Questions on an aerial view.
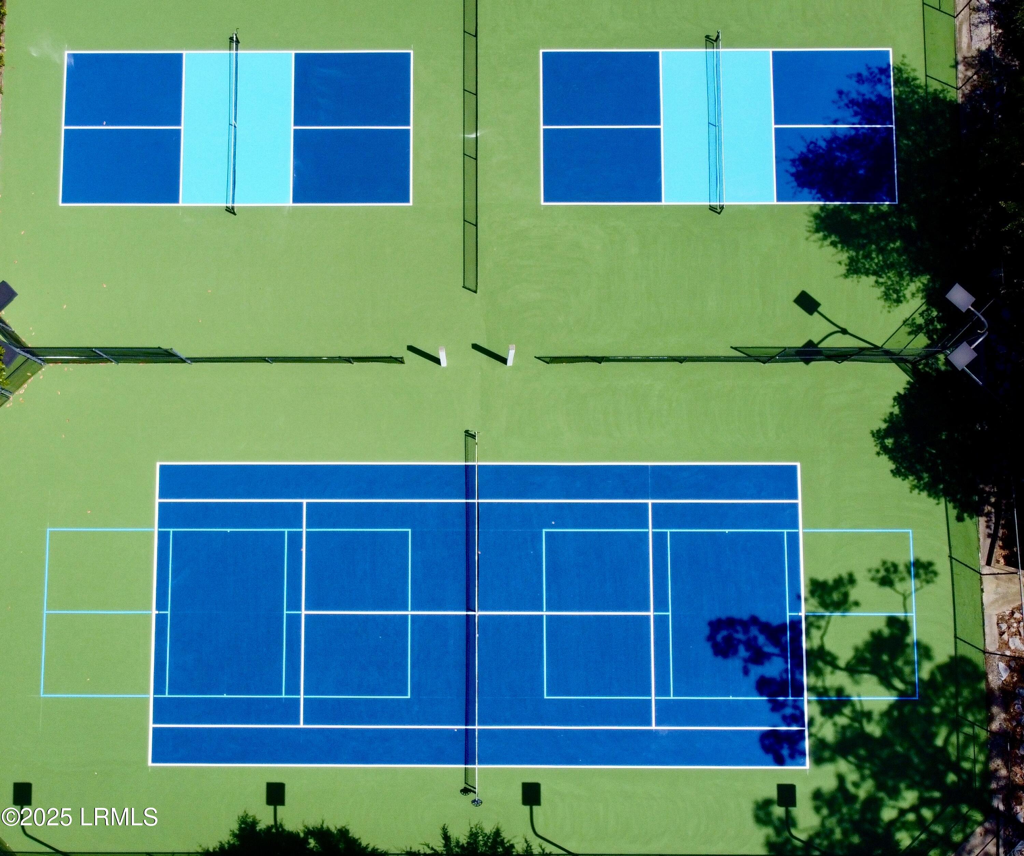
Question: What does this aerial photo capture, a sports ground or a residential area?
sports ground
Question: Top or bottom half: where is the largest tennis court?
bottom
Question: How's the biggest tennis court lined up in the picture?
from side to side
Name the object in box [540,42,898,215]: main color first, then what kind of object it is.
blue sports court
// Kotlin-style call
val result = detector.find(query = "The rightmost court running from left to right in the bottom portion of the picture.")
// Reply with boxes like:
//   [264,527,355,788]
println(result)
[544,529,918,700]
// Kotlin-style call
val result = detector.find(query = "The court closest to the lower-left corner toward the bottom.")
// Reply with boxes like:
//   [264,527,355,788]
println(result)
[41,528,411,698]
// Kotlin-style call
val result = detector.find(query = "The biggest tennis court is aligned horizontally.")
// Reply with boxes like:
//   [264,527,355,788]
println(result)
[148,453,809,769]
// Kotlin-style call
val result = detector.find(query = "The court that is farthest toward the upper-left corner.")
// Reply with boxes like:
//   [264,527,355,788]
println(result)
[59,44,413,209]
